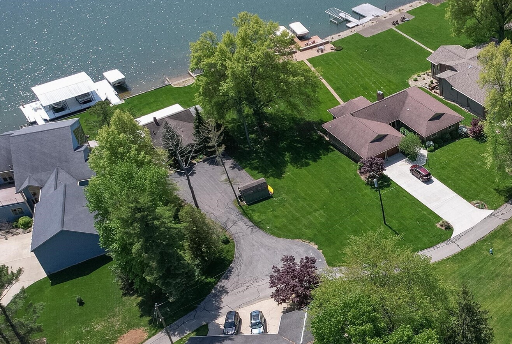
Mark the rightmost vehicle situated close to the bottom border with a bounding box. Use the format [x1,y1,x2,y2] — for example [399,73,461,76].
[248,307,265,335]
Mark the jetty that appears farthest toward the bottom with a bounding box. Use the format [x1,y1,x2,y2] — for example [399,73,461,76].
[19,99,50,125]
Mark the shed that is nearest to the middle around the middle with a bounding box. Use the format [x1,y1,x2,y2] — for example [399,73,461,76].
[236,178,269,206]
